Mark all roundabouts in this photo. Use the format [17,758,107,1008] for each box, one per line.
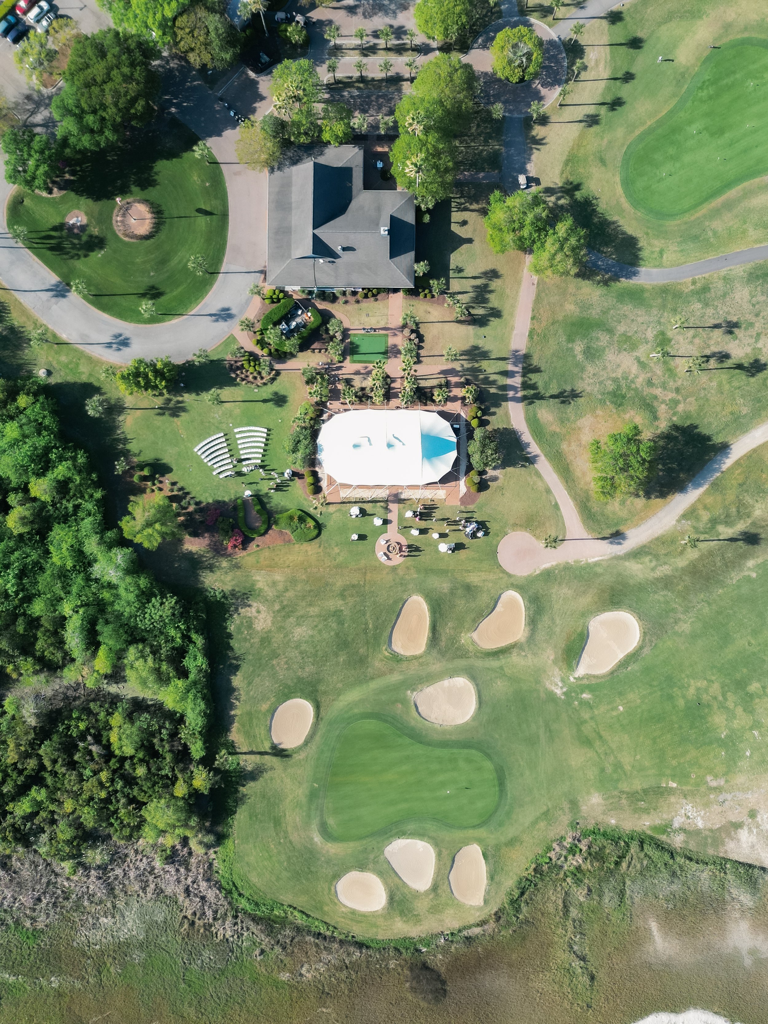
[470,17,567,115]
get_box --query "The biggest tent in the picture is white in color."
[314,402,469,501]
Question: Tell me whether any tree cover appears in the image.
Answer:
Yes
